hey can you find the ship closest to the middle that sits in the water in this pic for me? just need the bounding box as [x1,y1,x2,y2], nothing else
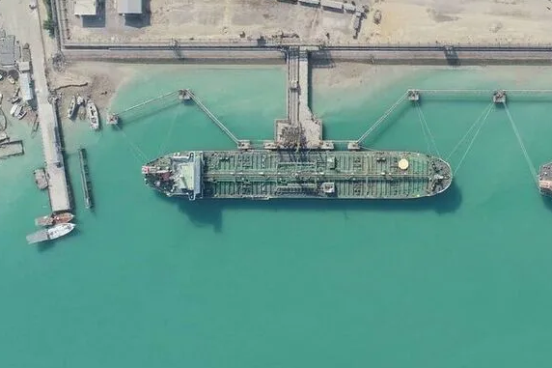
[141,149,454,200]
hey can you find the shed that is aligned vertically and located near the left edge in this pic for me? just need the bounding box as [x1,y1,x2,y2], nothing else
[20,72,37,100]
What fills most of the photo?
water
